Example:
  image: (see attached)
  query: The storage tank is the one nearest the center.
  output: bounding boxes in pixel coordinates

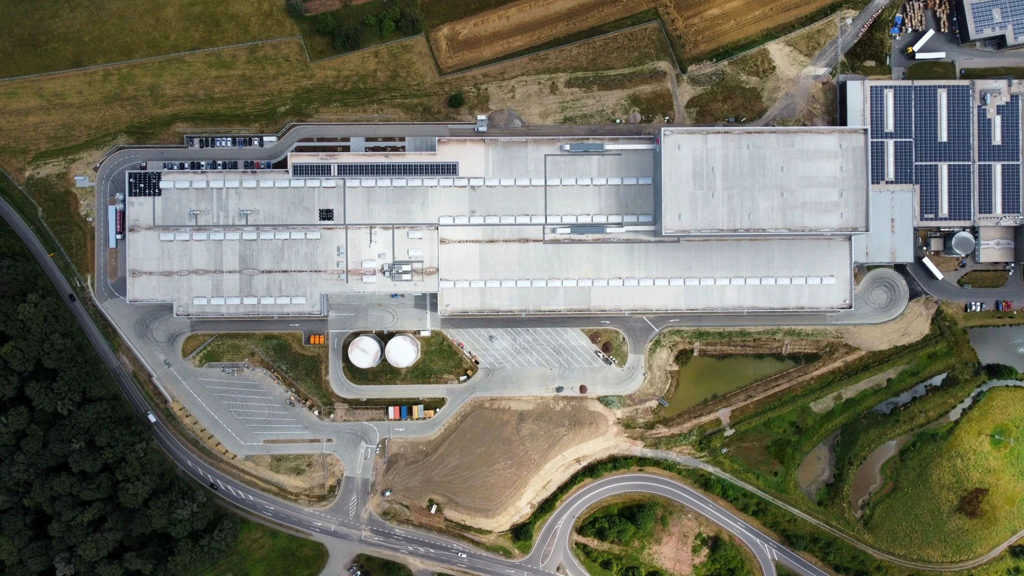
[385,333,420,368]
